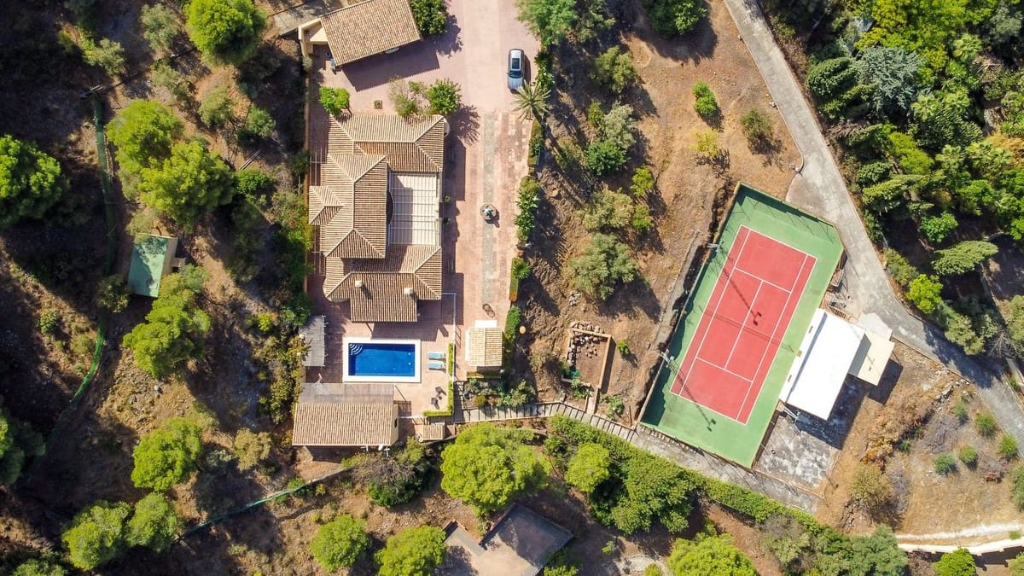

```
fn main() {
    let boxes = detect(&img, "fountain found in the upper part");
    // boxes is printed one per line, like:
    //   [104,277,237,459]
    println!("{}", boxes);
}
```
[481,205,498,222]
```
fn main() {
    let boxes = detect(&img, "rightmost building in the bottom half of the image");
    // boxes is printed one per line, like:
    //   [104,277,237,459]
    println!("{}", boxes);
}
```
[768,308,895,419]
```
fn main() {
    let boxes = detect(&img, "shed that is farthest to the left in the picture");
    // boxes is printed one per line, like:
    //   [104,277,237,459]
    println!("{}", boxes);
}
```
[128,234,185,297]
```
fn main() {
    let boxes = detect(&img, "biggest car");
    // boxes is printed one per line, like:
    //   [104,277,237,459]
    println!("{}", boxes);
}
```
[506,49,525,91]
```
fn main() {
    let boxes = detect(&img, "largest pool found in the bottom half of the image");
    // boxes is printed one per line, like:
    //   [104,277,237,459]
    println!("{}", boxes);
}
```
[343,338,421,382]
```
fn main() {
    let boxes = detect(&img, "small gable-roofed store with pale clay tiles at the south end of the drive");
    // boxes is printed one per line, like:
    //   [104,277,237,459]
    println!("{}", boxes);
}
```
[464,320,503,372]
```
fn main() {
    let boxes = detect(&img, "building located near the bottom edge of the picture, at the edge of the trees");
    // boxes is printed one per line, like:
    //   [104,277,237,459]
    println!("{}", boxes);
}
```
[490,508,573,576]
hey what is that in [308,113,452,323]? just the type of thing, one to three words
house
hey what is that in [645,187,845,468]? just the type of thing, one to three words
tennis court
